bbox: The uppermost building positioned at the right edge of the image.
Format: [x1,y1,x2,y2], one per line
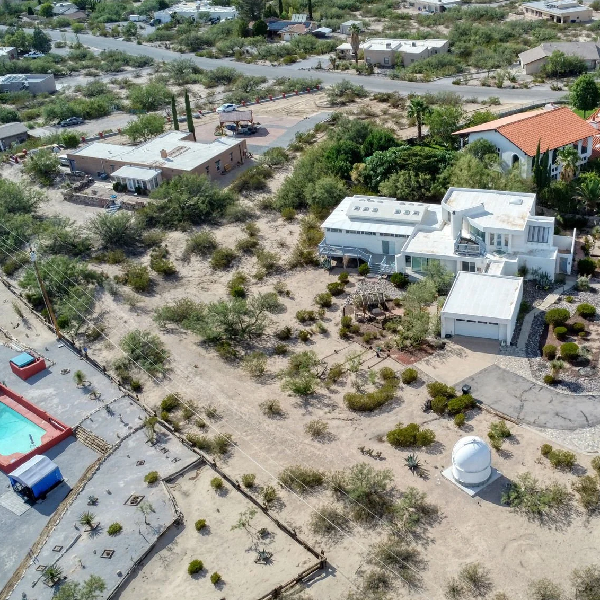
[509,0,592,30]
